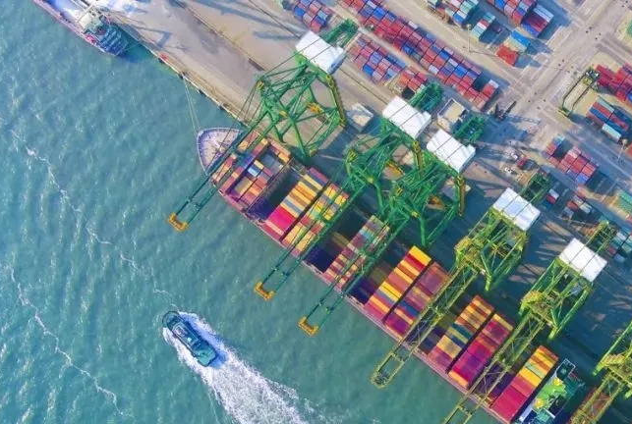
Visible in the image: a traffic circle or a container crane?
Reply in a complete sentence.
The one in the frame is a container crane.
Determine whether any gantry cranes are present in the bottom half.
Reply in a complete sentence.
Yes, a gantry crane appears in the bottom half.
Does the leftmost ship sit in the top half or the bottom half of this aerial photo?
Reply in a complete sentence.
The leftmost ship is in the top half of the image.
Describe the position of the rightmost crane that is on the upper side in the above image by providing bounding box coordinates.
[554,68,603,132]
